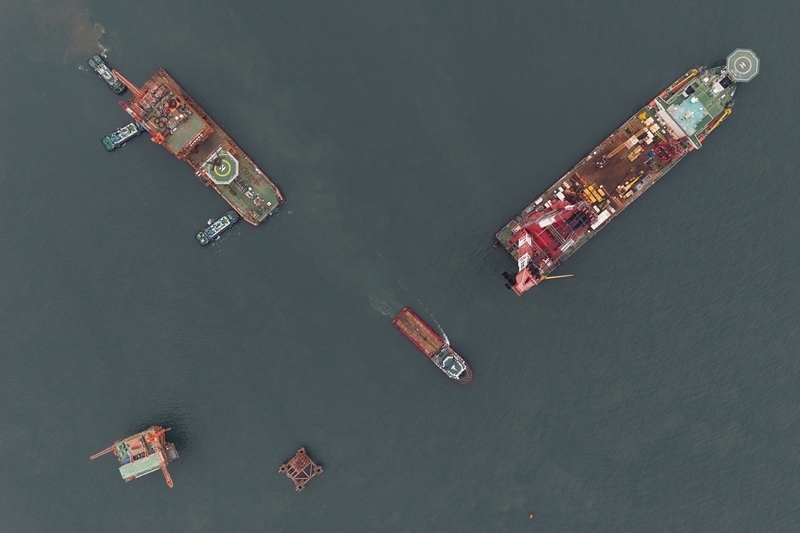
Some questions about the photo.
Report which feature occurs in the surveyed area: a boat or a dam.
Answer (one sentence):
This aerial view contains a boat.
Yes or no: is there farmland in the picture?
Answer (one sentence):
No, the scene doesn't show any farmland.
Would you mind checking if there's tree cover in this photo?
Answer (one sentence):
No, tree cover can't be seen anywhere here.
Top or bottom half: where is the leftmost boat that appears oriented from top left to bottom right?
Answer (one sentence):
Seen from above, the leftmost boat that appears oriented from top left to bottom right lies in the top half of the view.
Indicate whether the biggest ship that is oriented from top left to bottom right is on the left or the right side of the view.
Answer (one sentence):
The biggest ship that is oriented from top left to bottom right appears in the left half of the scene.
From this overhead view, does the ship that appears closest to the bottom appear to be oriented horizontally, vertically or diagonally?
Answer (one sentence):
In this picture, the ship that appears closest to the bottom is oriented diagonally.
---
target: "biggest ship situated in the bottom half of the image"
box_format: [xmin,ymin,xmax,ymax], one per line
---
[394,309,470,383]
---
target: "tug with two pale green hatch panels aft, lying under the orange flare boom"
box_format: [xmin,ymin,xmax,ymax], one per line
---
[88,54,126,94]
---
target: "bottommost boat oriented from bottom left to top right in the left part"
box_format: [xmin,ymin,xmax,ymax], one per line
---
[197,211,240,245]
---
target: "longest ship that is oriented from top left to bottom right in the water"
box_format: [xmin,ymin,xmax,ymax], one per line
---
[109,69,285,225]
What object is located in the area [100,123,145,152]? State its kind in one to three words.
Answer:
boat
